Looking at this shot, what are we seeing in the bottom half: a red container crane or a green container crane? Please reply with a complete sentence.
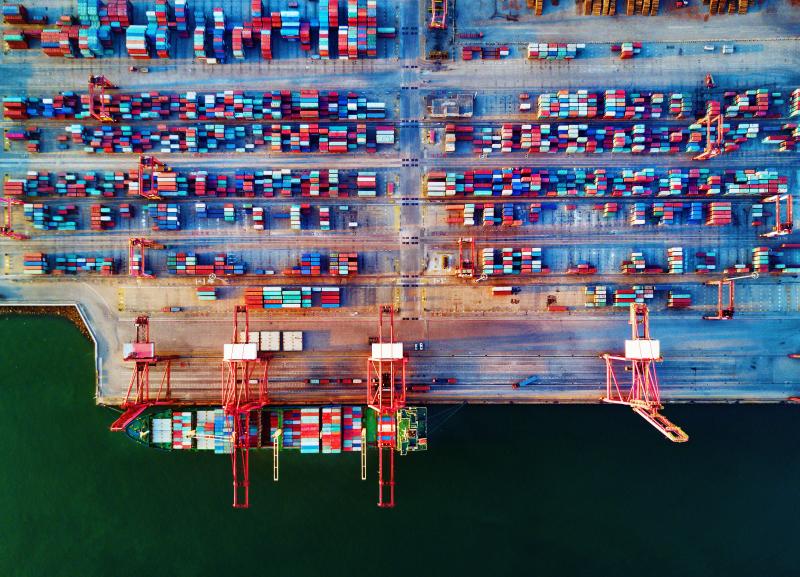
Visible in the bottom half is a red container crane.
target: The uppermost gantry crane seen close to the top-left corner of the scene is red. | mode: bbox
[89,80,121,128]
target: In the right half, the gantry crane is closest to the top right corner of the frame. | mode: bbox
[691,116,723,162]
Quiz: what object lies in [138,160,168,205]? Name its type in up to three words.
container crane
